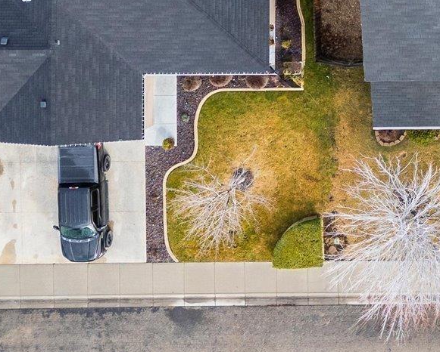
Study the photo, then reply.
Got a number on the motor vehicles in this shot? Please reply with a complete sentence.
The picture shows 1 motor vehicle.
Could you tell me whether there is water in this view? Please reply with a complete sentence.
No, the picture contains no water.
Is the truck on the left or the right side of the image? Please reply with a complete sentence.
The truck is on the left side of the image.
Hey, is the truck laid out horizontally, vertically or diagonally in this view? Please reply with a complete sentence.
From this overhead view, the truck appears to run vertically.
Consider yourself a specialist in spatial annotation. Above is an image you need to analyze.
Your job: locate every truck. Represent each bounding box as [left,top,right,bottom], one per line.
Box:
[50,144,110,269]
